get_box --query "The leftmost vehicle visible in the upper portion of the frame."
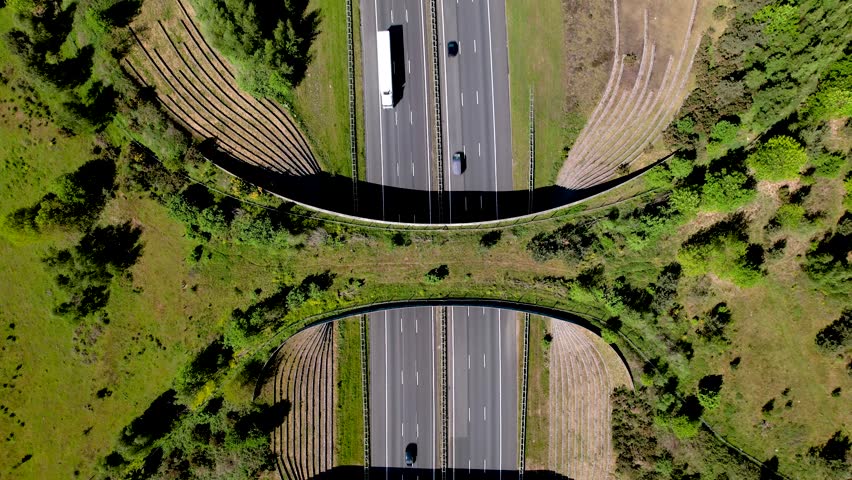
[378,32,394,110]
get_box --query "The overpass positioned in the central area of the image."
[191,147,677,401]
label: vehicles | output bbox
[404,446,414,466]
[448,41,456,58]
[452,154,461,176]
[378,32,394,110]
